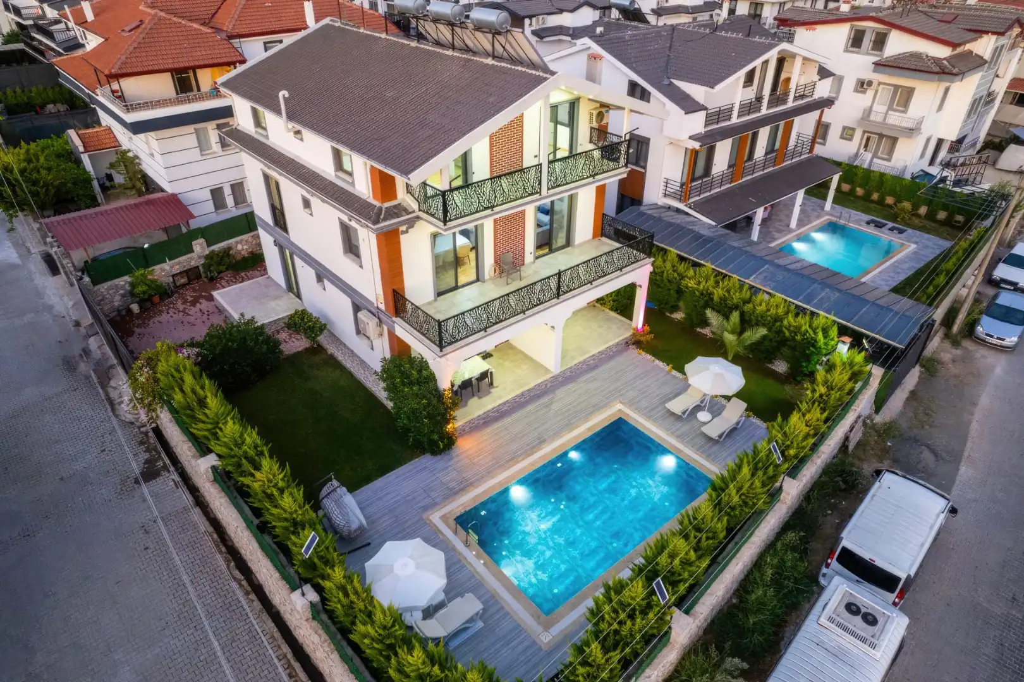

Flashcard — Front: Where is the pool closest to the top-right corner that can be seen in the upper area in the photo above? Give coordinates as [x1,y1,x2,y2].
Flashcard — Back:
[765,216,923,283]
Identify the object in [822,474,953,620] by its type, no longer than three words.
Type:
van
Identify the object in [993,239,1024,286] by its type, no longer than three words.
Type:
car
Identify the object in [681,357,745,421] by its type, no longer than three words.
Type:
umbrella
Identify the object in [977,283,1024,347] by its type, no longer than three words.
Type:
car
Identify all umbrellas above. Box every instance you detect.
[358,537,449,627]
[681,357,745,421]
